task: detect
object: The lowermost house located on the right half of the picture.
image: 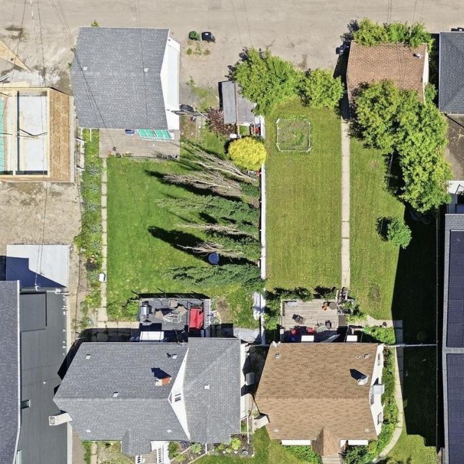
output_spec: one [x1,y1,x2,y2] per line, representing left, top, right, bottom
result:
[247,336,391,464]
